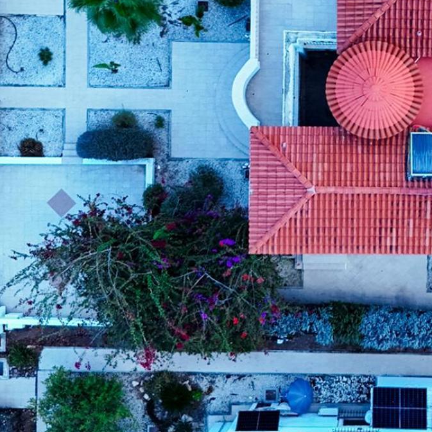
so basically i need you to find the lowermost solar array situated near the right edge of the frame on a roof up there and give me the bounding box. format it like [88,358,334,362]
[373,386,426,428]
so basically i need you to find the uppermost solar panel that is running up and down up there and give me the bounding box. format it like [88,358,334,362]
[411,134,432,178]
